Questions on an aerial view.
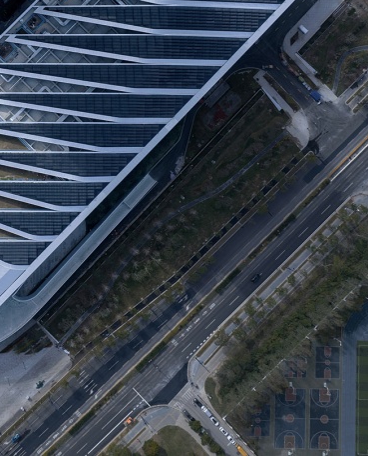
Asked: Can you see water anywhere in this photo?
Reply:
No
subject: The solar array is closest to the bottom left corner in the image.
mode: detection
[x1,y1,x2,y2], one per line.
[0,242,40,262]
